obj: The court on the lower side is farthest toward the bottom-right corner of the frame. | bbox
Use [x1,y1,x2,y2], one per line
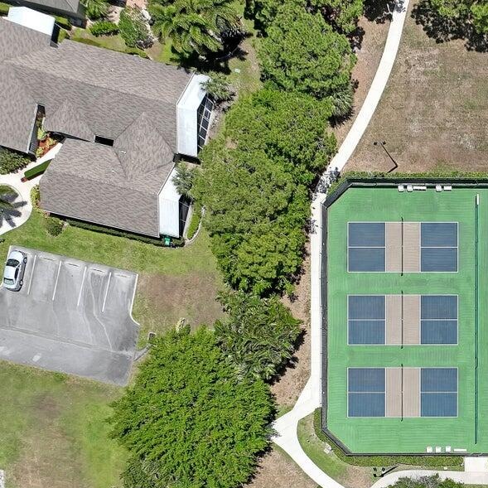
[347,367,458,417]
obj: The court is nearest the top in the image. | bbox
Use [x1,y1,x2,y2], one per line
[347,221,458,272]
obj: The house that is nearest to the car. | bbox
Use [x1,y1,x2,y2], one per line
[0,6,216,237]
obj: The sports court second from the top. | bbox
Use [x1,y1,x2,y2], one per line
[347,294,458,345]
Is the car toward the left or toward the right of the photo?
left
